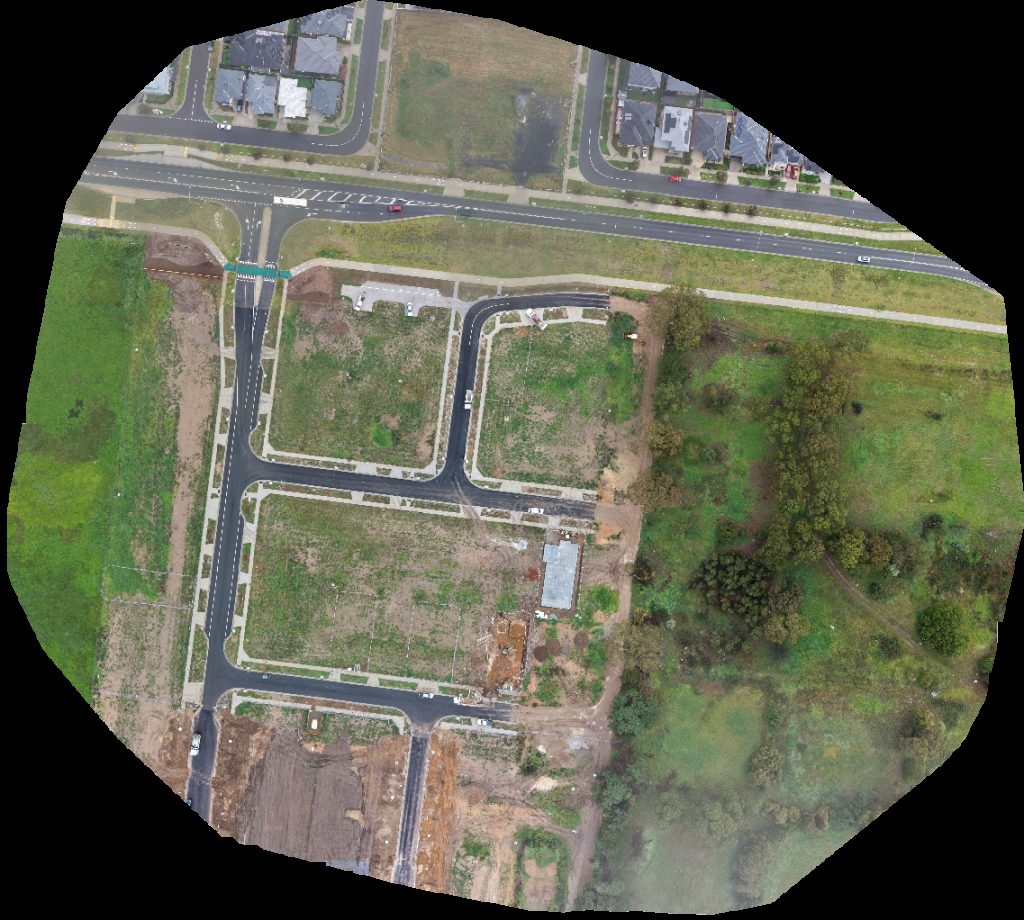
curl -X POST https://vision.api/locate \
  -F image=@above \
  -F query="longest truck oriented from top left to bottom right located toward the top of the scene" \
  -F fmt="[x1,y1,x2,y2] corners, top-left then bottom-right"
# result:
[526,307,547,331]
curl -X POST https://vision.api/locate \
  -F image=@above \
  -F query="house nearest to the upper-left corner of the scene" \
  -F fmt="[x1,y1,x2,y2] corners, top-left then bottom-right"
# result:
[139,65,169,96]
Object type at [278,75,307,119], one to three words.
house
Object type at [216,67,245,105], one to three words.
house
